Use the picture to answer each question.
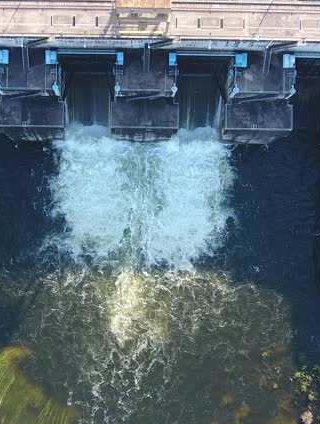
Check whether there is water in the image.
Yes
